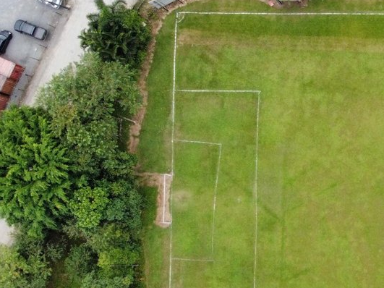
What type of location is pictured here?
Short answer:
sports ground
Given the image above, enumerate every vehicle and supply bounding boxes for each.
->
[14,19,50,41]
[0,27,15,58]
[36,0,66,11]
